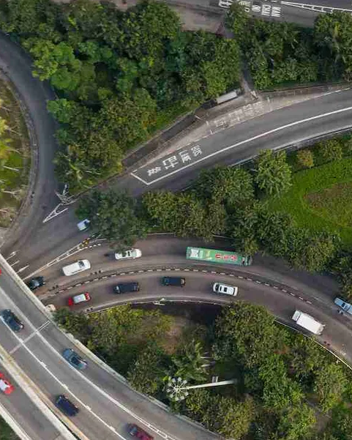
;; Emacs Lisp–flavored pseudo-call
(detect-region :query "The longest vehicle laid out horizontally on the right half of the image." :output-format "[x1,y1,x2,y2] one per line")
[186,246,256,270]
